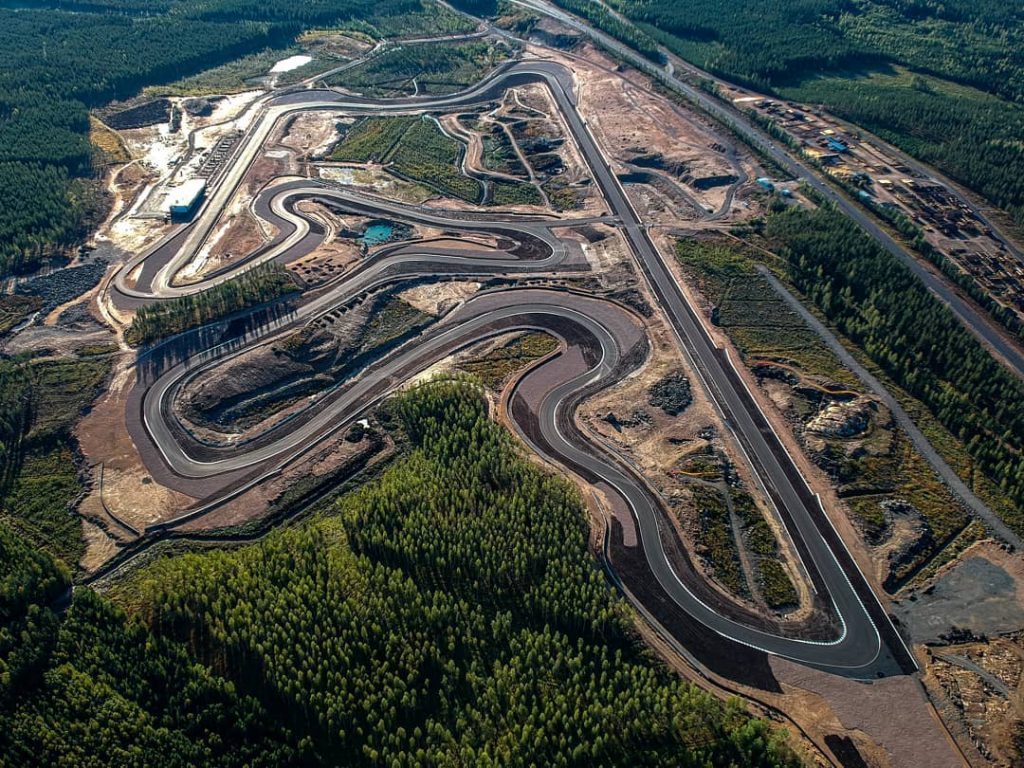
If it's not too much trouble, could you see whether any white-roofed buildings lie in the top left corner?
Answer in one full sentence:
Yes, you'll find a white-roofed building in the top left corner.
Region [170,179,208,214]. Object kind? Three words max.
building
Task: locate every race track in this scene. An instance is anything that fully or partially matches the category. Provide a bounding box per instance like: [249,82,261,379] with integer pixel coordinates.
[144,70,880,667]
